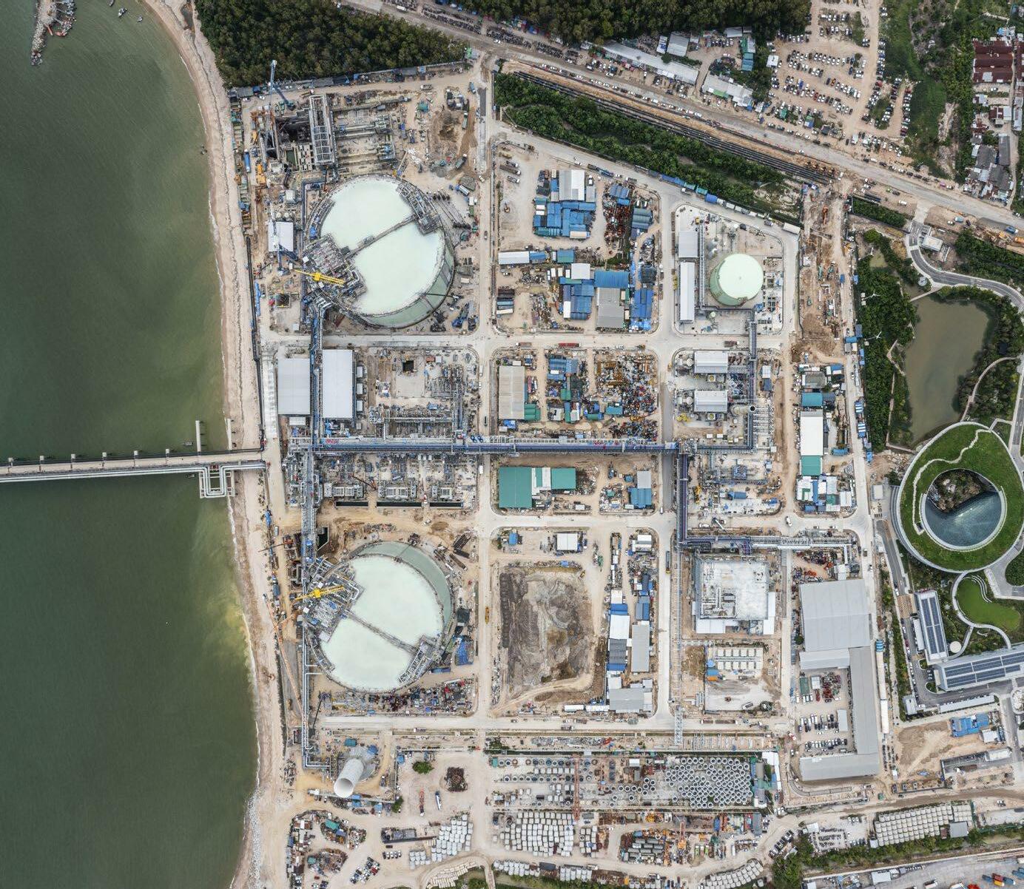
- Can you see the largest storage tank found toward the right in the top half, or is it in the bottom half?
top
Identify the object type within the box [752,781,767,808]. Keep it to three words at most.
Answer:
shed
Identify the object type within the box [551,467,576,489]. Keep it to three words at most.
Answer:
building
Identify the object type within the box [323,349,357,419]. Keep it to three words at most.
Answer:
building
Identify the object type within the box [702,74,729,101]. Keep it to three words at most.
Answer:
shed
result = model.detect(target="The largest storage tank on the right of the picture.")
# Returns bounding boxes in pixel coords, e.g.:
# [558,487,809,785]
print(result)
[707,254,765,307]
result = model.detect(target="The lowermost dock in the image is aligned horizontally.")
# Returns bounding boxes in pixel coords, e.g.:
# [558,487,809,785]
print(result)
[0,448,276,498]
